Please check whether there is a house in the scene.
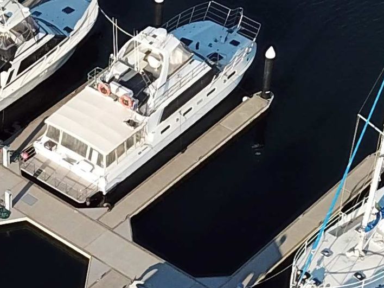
No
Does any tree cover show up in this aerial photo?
No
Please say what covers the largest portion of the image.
water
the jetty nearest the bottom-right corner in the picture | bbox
[192,148,384,288]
